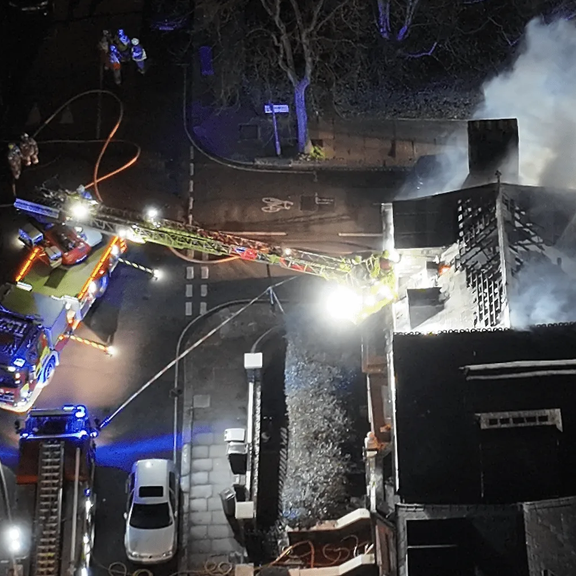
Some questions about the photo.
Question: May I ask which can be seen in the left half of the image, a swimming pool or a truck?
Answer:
truck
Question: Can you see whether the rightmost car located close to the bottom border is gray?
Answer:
Yes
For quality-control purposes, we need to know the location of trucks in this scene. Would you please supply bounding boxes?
[8,401,114,576]
[0,175,406,404]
